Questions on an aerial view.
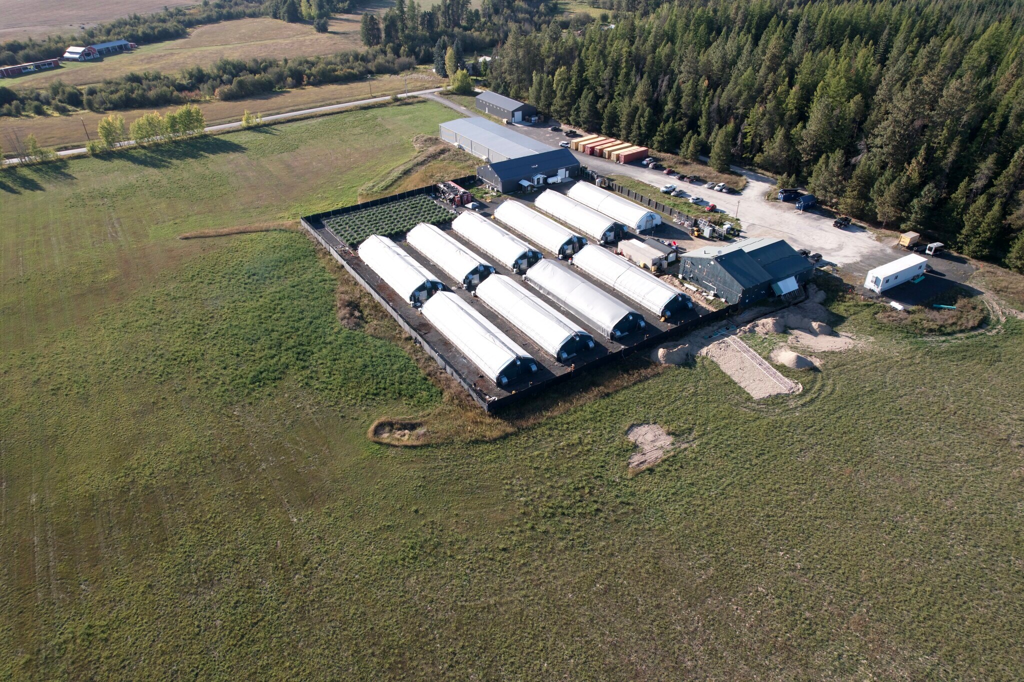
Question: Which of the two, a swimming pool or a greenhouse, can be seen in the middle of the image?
greenhouse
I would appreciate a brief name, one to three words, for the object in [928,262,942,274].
vehicle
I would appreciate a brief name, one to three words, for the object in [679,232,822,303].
building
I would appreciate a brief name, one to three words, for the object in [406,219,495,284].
greenhouse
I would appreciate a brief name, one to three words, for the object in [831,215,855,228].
vehicle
